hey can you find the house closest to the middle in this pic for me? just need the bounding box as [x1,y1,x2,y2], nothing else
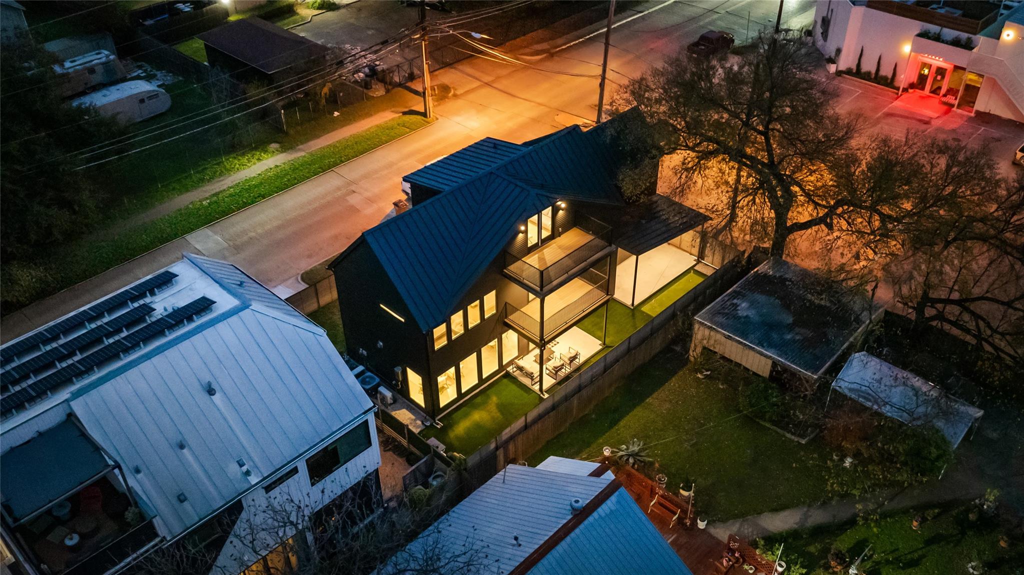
[323,104,713,430]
